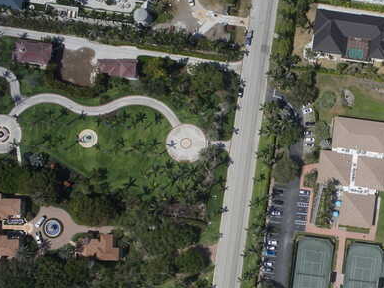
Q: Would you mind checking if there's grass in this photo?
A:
Yes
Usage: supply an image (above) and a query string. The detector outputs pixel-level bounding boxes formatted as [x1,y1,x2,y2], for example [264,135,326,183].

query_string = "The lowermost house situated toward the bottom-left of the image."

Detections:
[80,231,123,260]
